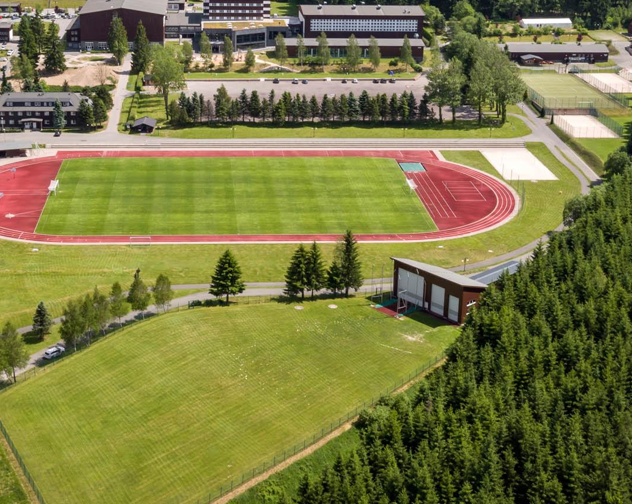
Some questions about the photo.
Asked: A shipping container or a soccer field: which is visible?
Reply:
soccer field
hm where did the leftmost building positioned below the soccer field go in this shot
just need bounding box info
[389,257,490,324]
